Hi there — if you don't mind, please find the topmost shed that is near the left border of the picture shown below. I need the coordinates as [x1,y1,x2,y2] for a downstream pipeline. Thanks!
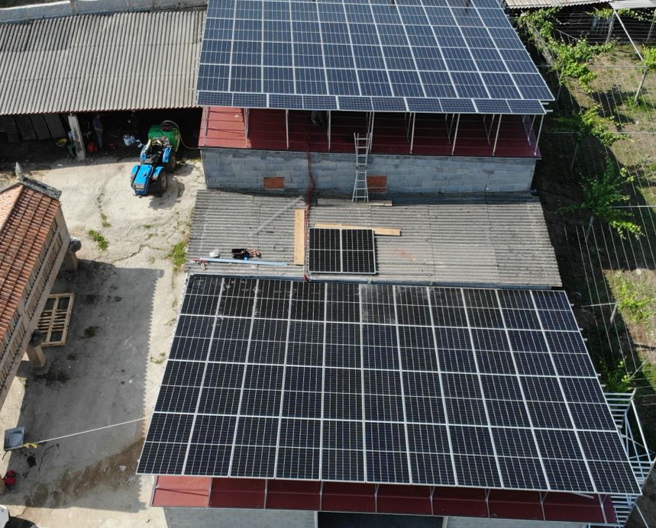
[0,8,209,157]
